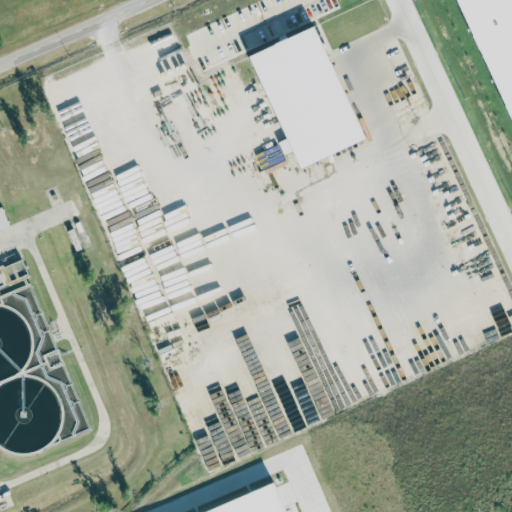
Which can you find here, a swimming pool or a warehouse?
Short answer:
warehouse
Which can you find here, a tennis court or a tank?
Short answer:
tank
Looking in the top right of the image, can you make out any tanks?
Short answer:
No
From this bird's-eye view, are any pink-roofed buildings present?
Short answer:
No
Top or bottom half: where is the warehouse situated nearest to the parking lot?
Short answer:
top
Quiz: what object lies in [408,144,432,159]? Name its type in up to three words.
vehicle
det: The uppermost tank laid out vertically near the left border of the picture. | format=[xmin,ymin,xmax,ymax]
[0,303,32,383]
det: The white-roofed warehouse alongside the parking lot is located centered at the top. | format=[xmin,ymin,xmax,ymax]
[248,22,365,168]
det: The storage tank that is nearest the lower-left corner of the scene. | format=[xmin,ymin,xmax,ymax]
[0,374,64,456]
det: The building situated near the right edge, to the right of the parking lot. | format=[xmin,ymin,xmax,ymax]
[458,0,512,122]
